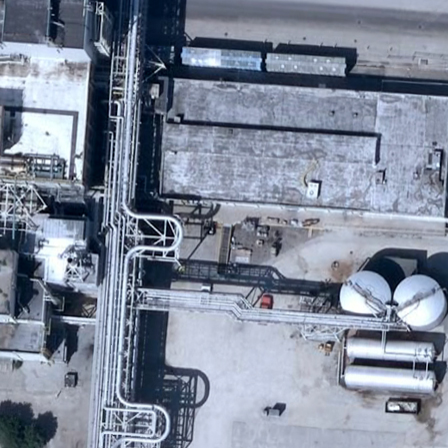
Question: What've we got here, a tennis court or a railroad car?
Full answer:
I can see a railroad car in this picture.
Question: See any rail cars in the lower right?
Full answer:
No, there's no rail car to be seen in the lower right.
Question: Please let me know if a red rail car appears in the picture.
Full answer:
No, I can't see a single red rail car in this photo.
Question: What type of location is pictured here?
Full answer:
The picture captures an industrial area.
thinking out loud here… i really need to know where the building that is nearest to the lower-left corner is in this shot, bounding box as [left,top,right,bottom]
[0,319,53,362]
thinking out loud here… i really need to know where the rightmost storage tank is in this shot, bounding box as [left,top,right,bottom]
[395,278,446,333]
